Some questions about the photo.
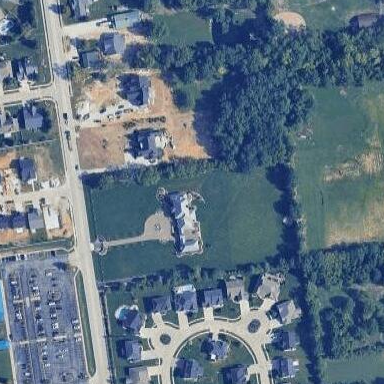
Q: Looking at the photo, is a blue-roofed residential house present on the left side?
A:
Yes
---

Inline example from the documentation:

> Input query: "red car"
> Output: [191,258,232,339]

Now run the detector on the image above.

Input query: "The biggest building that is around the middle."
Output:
[168,192,207,258]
